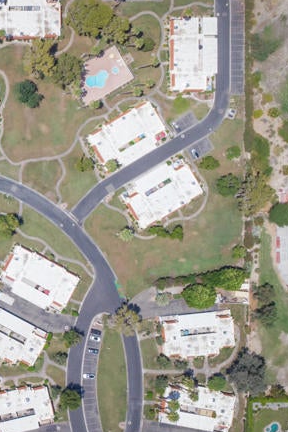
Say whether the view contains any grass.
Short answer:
Yes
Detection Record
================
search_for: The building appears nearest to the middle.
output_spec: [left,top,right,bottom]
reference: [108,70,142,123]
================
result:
[121,163,203,228]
